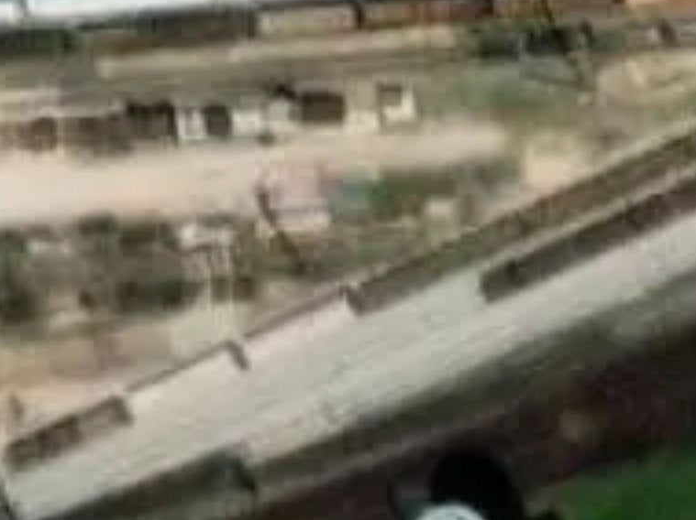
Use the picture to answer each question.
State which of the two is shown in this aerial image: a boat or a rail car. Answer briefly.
rail car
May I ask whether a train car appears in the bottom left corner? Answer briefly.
Yes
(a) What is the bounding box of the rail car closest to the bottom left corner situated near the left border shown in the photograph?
[4,395,138,474]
